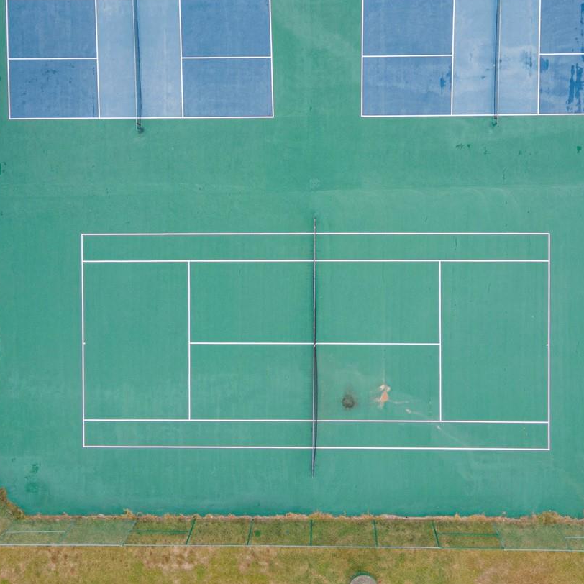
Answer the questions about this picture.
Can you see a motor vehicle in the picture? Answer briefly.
No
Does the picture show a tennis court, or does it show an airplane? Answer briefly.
tennis court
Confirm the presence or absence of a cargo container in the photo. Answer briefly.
No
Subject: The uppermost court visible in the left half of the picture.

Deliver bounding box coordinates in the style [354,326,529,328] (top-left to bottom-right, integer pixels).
[6,0,274,119]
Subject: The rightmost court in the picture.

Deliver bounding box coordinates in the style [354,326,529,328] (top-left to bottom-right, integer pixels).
[362,0,584,117]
